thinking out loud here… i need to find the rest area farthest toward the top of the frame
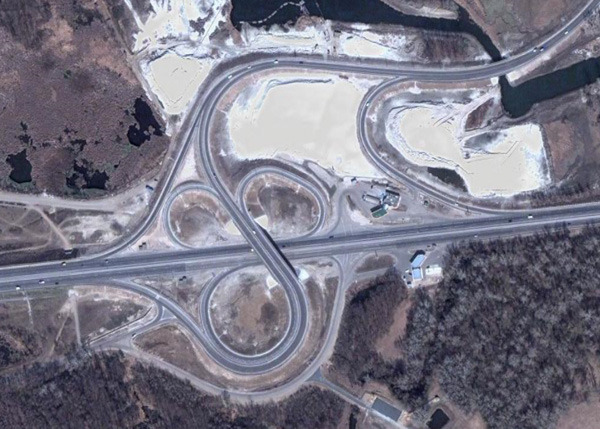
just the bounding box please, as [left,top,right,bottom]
[329,181,457,236]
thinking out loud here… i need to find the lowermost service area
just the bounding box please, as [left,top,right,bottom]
[336,244,446,288]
